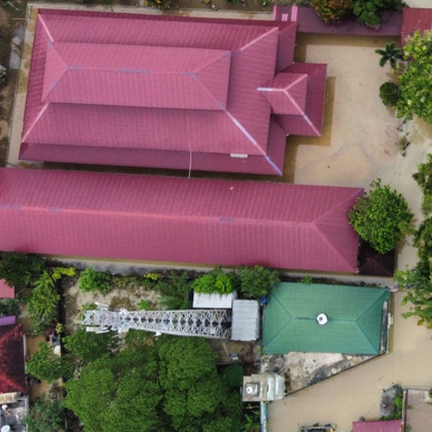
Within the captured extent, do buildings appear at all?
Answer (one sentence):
Yes, the frame does contain a building.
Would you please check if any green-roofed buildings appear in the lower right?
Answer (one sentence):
Yes, you'll find a green-roofed building in the lower right.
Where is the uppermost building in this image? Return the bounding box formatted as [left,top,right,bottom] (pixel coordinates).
[19,8,327,177]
